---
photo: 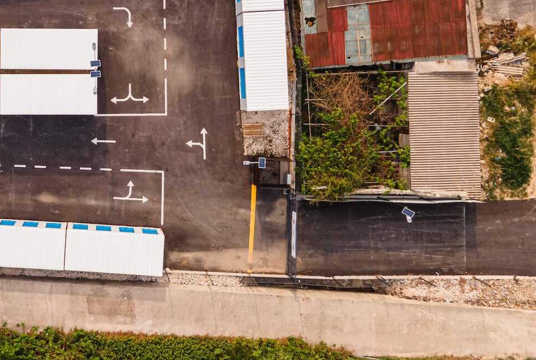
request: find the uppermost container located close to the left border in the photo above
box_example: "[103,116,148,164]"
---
[0,29,97,69]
